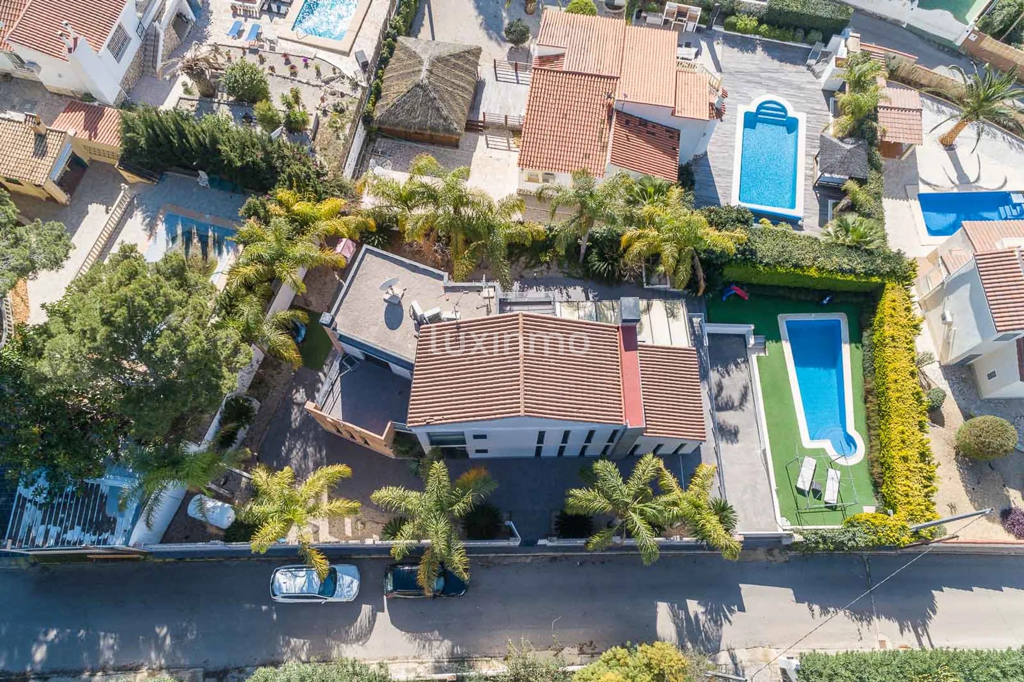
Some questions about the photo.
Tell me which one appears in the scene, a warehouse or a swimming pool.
swimming pool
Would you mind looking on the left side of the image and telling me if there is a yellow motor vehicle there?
No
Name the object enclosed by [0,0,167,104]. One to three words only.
house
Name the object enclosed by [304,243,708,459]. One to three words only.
house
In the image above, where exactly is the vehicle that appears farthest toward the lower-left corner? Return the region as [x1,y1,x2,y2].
[269,561,361,608]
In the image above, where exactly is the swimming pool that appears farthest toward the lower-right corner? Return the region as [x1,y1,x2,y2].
[779,314,864,464]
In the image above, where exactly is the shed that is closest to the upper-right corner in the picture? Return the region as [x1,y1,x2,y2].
[867,86,924,163]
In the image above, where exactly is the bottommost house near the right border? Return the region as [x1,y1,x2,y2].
[911,219,1024,398]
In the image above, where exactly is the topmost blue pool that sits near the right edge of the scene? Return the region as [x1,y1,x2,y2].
[910,185,1024,242]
